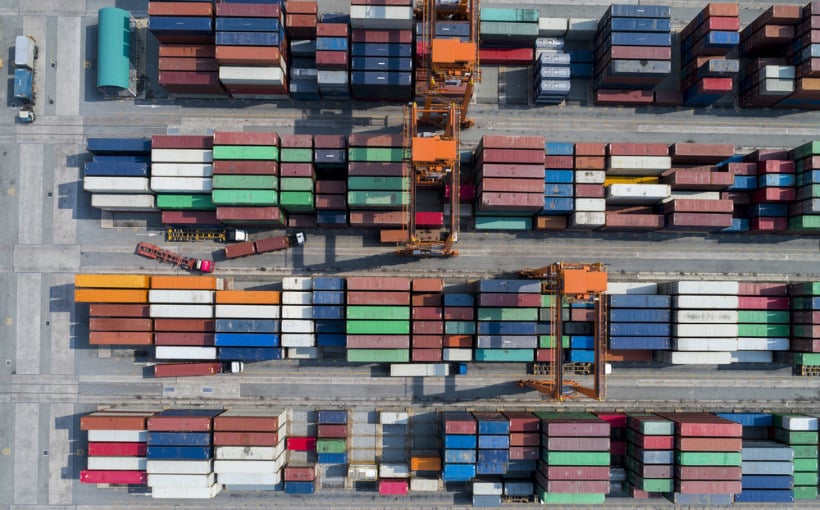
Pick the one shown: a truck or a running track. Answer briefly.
truck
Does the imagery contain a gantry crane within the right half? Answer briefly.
Yes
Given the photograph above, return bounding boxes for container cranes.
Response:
[412,0,481,128]
[513,262,609,402]
[395,101,462,258]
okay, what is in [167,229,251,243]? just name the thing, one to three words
vehicle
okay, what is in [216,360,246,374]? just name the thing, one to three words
vehicle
